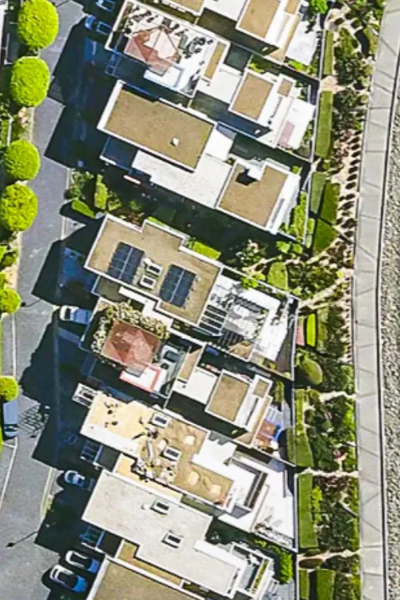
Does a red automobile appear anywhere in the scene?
No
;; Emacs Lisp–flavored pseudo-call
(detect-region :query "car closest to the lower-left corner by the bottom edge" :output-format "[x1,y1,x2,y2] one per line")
[52,568,85,588]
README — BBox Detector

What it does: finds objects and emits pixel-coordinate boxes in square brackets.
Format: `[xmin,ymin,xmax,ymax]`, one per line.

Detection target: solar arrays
[108,242,144,284]
[158,263,196,308]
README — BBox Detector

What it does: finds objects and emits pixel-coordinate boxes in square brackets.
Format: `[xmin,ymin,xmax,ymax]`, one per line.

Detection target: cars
[81,15,115,35]
[58,305,93,323]
[52,568,85,588]
[57,468,92,488]
[66,551,100,571]
[87,0,121,14]
[78,32,101,66]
